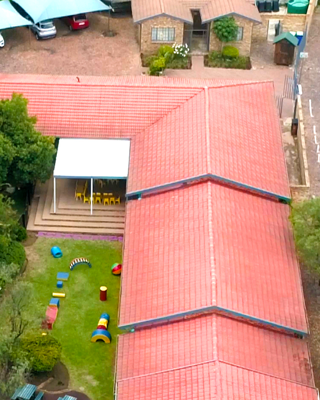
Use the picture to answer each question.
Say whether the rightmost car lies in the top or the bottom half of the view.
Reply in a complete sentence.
The top half of the photo is where the rightmost car is.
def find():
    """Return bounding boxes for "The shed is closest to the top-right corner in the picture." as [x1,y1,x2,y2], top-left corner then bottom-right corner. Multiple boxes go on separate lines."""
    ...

[273,26,301,68]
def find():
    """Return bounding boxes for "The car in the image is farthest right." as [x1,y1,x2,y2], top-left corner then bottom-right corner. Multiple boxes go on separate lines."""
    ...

[65,11,92,31]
